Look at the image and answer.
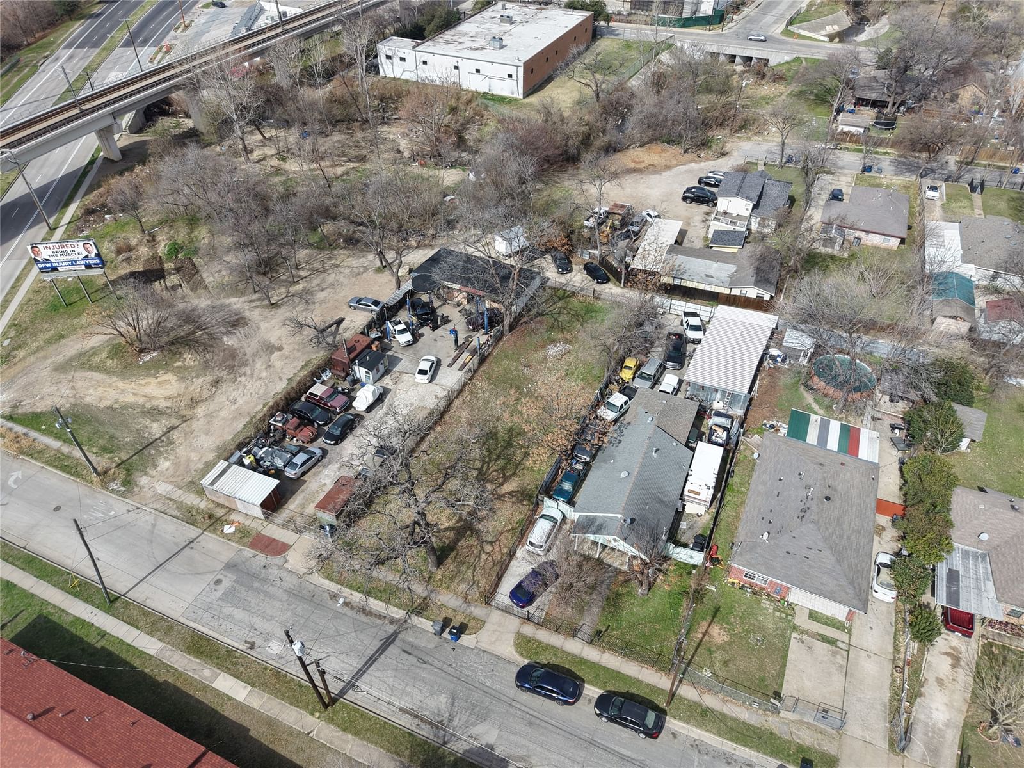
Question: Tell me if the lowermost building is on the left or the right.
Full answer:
The lowermost building sits on the left side.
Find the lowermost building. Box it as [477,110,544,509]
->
[0,633,238,768]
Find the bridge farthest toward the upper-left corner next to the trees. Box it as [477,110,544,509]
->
[0,0,433,175]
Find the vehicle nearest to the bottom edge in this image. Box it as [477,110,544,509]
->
[594,696,666,739]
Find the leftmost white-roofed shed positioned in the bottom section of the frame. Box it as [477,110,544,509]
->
[198,457,282,519]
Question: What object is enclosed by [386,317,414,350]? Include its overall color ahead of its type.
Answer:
white vehicle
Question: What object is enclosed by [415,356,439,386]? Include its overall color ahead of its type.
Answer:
white car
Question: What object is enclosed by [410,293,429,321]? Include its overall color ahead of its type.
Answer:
black car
